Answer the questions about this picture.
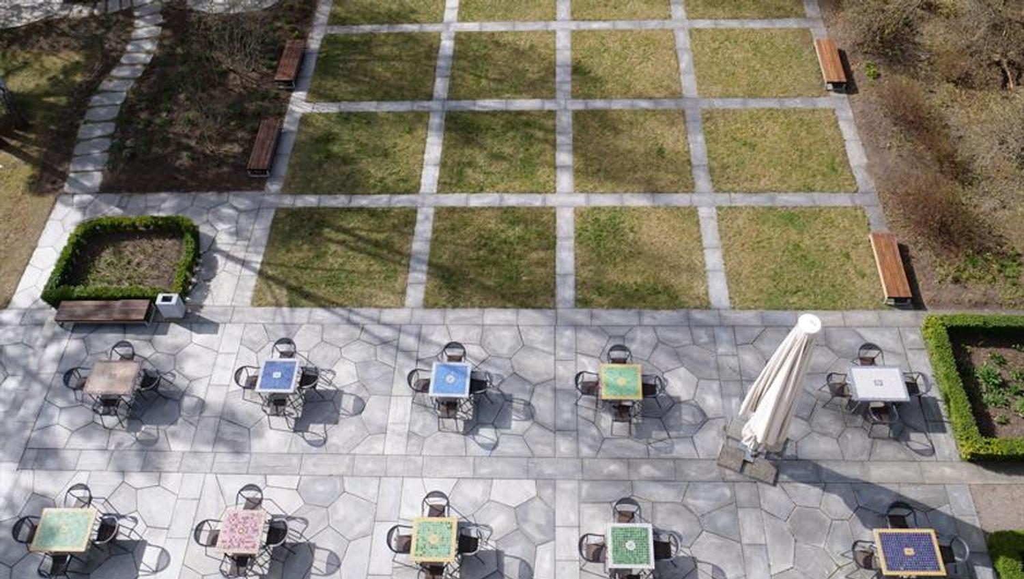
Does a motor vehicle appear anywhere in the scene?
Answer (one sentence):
No, the photo shows no motor vehicle.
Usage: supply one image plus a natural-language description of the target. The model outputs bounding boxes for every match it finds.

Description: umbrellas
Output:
[716,315,823,493]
